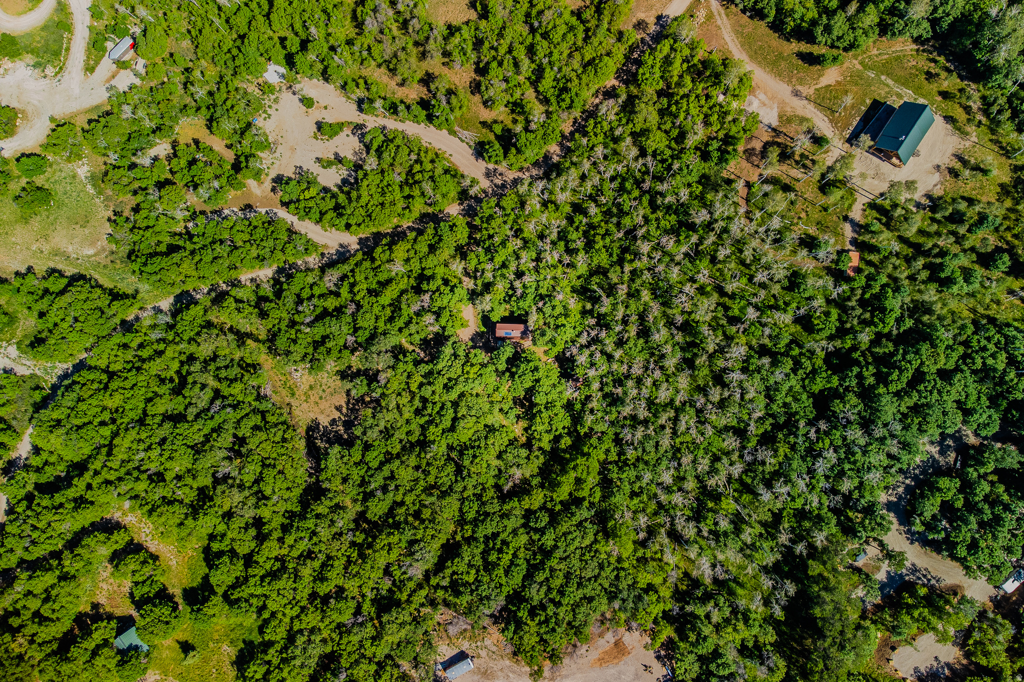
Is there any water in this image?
No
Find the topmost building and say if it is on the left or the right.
right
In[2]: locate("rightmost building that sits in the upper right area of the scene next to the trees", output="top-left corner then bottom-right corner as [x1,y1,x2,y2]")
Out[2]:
[866,99,935,174]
